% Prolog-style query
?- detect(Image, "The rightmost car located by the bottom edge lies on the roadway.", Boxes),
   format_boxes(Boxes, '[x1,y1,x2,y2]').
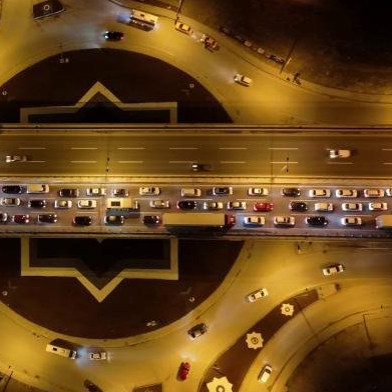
[257,363,273,385]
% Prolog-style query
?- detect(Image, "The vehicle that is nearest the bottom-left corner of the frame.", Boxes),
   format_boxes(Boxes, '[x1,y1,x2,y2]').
[47,342,76,360]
